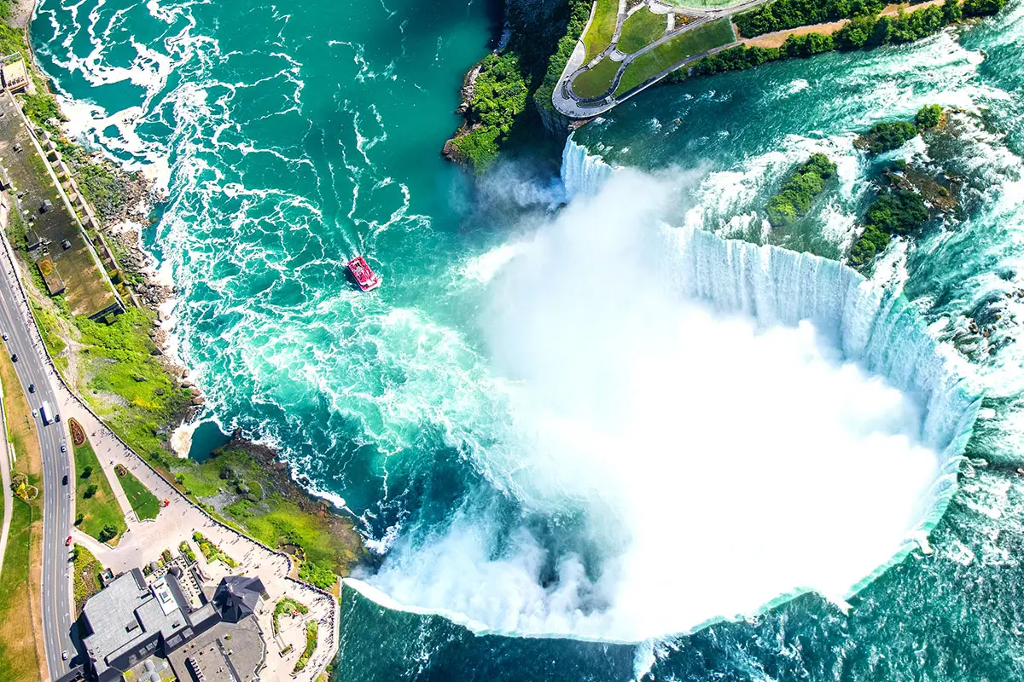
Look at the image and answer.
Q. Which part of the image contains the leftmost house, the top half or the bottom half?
top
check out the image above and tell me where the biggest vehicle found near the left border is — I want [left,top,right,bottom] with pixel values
[41,405,53,424]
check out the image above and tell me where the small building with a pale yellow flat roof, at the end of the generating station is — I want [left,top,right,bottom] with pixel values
[0,49,34,94]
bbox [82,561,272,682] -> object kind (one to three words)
building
